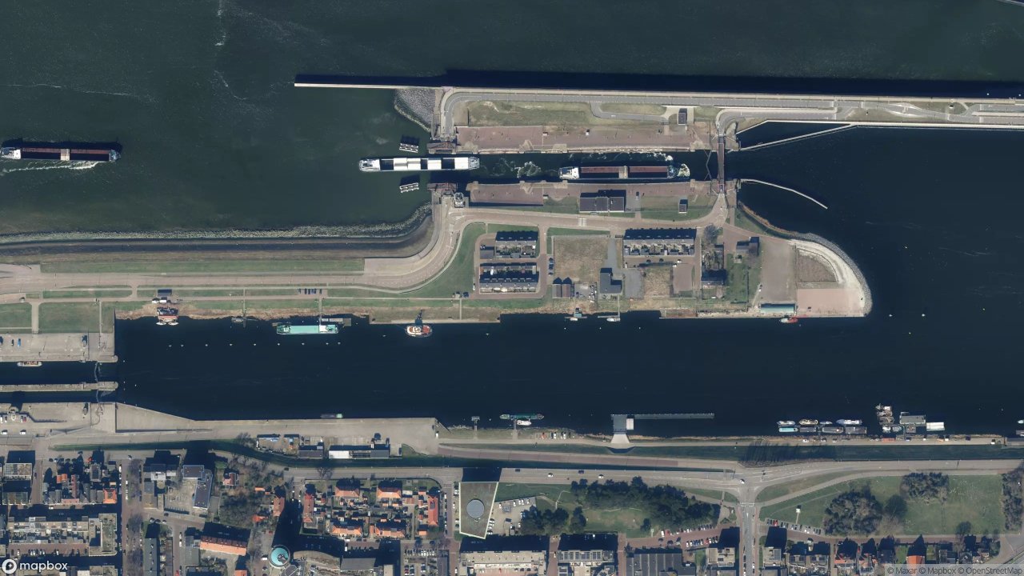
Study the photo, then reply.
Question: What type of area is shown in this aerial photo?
port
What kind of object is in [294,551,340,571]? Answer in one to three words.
building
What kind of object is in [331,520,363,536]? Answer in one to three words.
house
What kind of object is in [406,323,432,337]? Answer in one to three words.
boat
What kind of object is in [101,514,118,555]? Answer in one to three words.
building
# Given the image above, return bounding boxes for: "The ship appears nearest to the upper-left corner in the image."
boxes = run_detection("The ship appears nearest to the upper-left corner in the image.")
[1,147,121,162]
